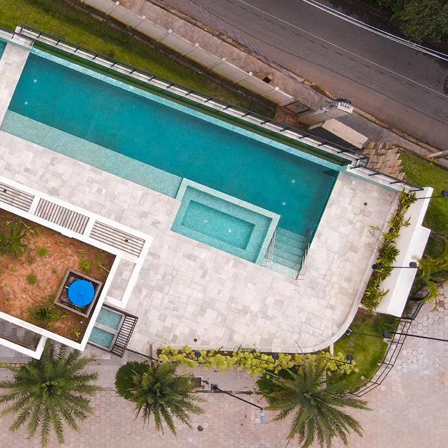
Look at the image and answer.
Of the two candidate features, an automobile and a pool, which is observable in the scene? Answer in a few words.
pool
